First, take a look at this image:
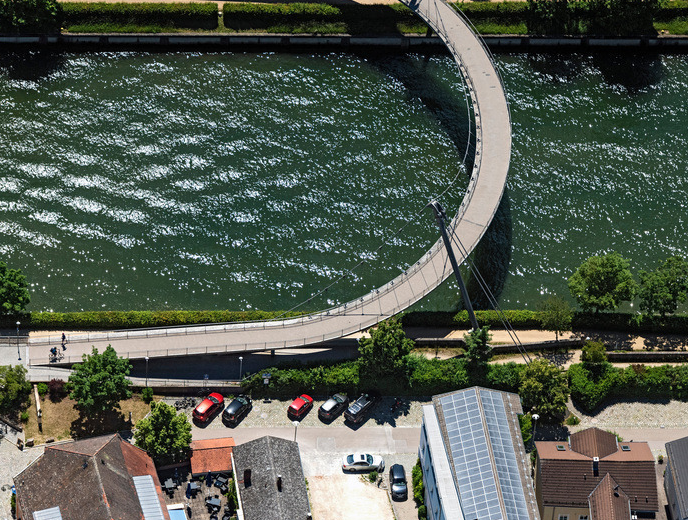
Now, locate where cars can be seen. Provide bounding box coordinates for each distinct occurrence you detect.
[341,451,385,472]
[191,395,224,425]
[343,391,379,426]
[317,393,350,423]
[389,462,409,500]
[286,393,313,421]
[221,394,253,426]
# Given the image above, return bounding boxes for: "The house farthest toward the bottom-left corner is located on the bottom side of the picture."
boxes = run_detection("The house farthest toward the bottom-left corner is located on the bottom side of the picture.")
[11,433,174,520]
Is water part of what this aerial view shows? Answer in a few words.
Yes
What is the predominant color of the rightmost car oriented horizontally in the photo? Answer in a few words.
white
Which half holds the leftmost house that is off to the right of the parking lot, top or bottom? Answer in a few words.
bottom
